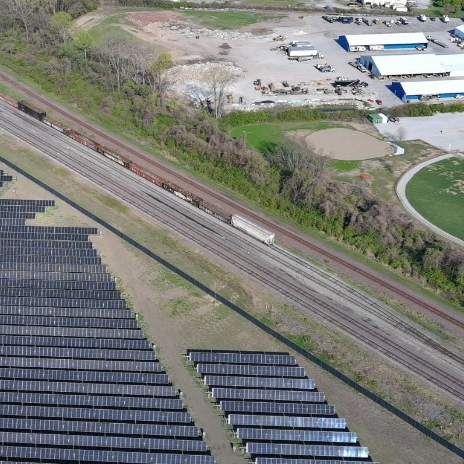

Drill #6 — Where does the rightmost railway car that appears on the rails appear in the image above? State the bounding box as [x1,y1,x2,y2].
[234,215,275,245]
